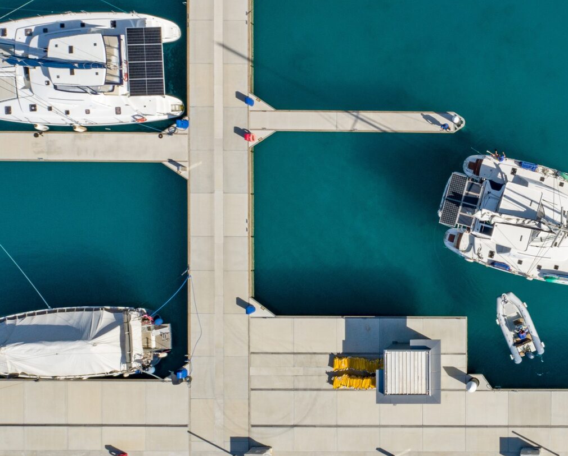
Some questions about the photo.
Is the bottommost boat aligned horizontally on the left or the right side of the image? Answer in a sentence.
The bottommost boat aligned horizontally appears in the left half of the scene.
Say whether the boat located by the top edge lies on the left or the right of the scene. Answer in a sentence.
It is on the left.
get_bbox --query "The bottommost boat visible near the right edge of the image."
[495,292,543,361]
